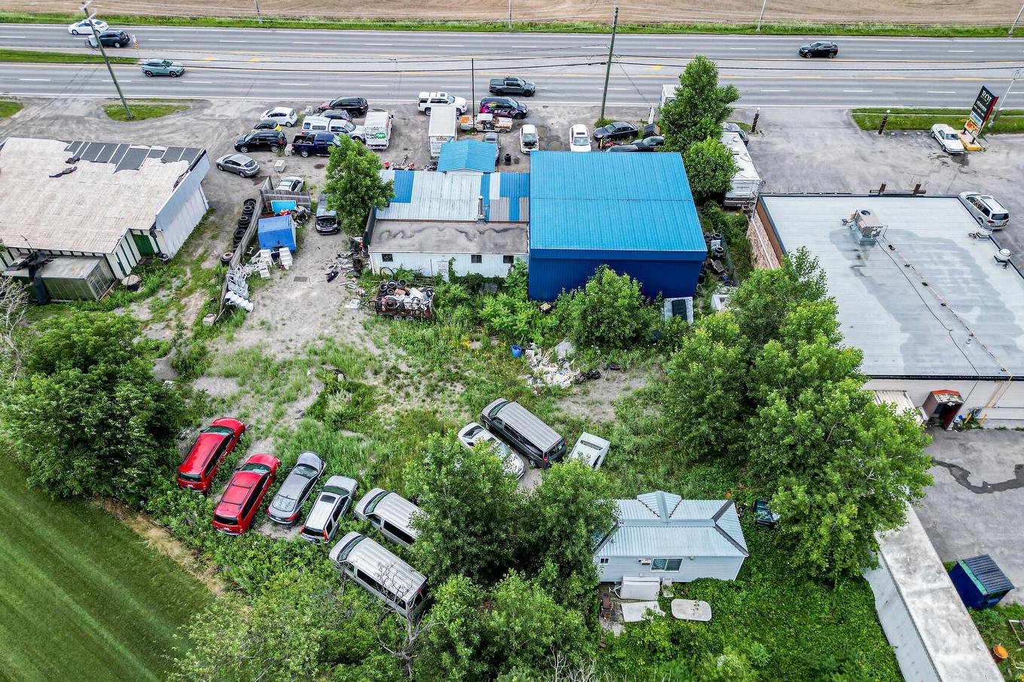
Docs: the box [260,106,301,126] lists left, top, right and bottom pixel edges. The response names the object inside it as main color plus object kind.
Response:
white car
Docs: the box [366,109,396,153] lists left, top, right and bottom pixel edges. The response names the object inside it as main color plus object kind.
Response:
white truck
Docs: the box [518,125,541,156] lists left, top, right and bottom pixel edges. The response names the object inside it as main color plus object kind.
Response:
white car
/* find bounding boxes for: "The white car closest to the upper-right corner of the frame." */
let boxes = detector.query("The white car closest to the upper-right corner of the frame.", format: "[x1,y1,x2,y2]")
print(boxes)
[931,125,965,154]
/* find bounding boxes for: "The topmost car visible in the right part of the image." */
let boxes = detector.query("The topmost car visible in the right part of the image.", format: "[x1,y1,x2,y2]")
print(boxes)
[797,38,840,58]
